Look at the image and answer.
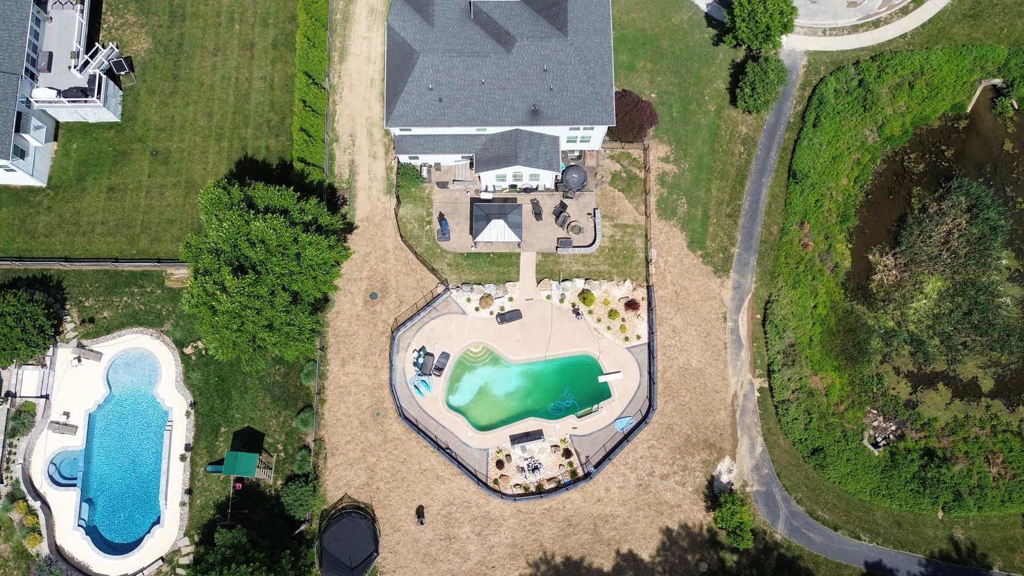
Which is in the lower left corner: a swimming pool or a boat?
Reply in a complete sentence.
The one visible in the lower left corner is a swimming pool.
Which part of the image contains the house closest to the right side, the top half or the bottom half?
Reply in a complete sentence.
You can find the house closest to the right side in the top half.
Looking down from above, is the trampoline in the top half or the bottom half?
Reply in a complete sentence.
The trampoline is in the bottom half of the image.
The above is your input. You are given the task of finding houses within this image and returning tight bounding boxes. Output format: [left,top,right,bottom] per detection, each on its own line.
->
[383,0,617,192]
[0,0,67,182]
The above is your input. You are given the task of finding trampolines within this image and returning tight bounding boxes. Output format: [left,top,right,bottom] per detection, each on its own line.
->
[312,510,384,576]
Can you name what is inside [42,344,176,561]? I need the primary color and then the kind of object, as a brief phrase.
blue swimming pool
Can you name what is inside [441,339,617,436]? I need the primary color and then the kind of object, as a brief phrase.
green swimming pool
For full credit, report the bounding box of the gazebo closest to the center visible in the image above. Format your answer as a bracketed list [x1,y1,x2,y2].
[473,202,523,250]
